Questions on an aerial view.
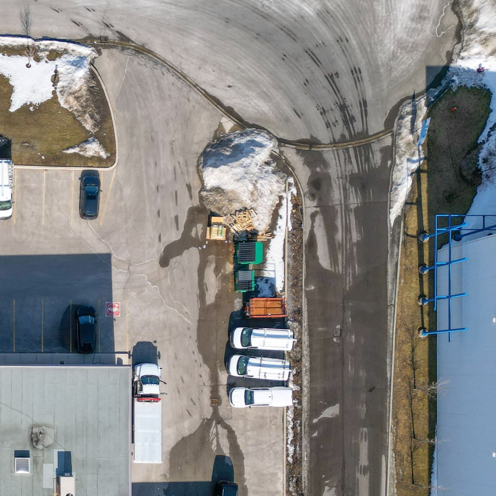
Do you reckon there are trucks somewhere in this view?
Yes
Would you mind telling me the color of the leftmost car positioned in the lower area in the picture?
black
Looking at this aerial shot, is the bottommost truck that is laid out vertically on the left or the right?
left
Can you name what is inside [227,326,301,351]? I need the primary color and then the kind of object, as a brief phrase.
white vehicle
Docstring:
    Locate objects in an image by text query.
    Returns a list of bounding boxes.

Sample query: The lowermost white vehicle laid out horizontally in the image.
[228,385,297,410]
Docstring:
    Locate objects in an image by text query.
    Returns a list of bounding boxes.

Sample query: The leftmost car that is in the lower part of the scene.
[74,306,100,352]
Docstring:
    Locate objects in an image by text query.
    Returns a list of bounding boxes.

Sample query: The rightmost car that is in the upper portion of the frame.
[79,176,103,220]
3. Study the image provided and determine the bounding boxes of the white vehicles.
[228,385,297,410]
[129,355,165,464]
[0,159,16,220]
[224,353,298,380]
[227,326,301,351]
